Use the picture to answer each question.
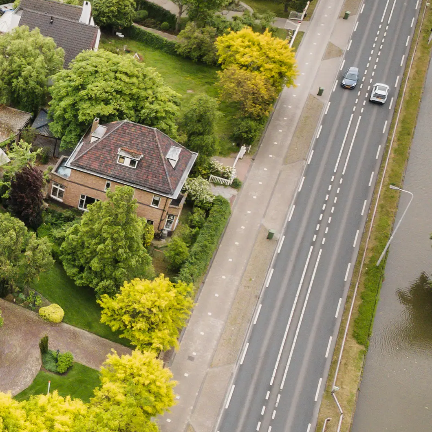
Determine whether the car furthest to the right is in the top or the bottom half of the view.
top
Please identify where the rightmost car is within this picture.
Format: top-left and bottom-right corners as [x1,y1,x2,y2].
[370,84,391,105]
